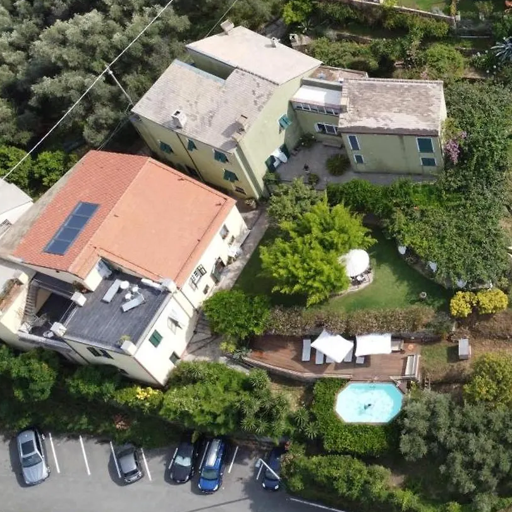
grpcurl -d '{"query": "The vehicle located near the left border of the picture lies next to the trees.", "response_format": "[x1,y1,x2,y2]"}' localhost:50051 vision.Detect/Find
[14,425,56,486]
